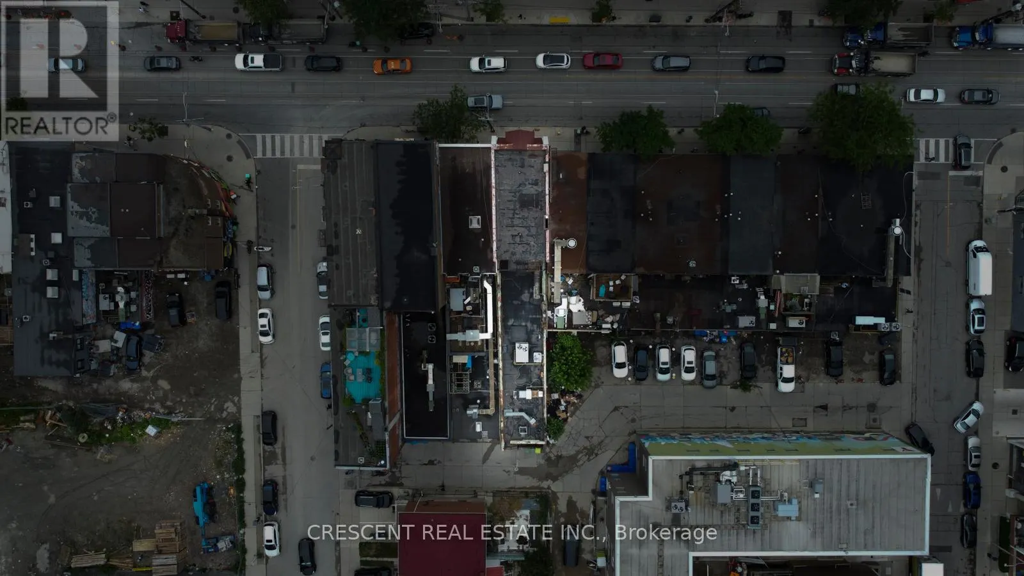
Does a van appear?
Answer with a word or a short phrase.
Yes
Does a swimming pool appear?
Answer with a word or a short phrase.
No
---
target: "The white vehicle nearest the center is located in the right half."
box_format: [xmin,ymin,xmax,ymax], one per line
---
[611,341,628,378]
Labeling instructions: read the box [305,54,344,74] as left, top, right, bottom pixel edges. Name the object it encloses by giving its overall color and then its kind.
black car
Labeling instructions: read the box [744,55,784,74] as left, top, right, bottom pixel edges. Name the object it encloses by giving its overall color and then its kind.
black car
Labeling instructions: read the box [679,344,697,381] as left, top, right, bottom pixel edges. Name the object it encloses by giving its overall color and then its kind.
white car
